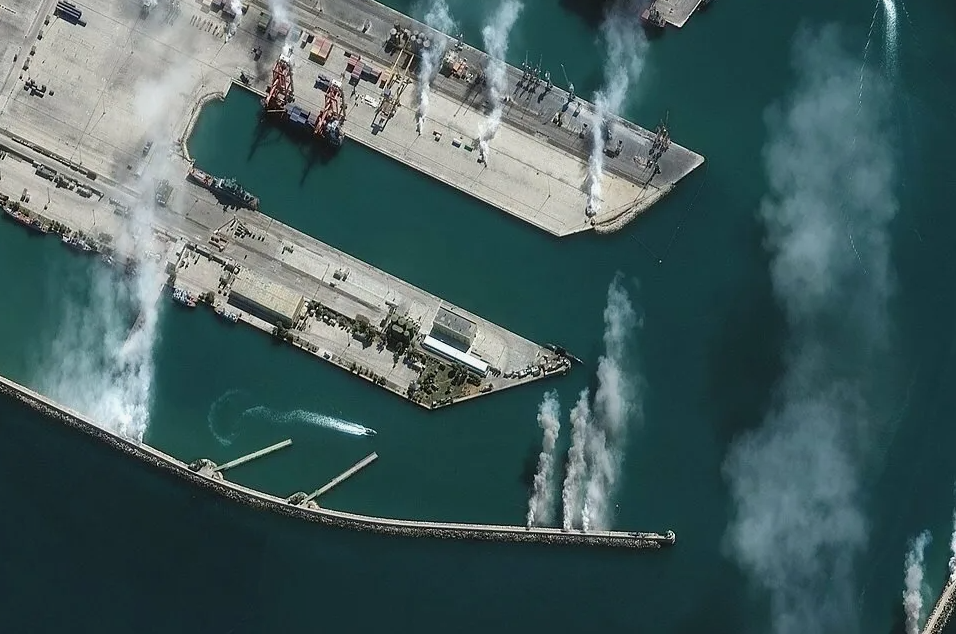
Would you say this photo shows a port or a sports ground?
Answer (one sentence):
The picture captures a port.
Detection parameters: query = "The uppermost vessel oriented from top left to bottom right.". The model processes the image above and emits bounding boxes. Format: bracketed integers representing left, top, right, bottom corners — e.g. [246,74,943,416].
[642,7,666,29]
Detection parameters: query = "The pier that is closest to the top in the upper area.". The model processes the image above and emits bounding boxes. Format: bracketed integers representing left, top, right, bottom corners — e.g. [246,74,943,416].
[652,0,702,28]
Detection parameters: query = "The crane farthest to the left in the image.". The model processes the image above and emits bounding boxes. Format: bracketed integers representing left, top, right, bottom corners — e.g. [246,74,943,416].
[251,54,293,115]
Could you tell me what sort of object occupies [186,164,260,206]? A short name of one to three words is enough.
ship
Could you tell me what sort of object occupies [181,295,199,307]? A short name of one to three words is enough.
boat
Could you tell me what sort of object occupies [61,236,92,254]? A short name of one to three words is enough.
ship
